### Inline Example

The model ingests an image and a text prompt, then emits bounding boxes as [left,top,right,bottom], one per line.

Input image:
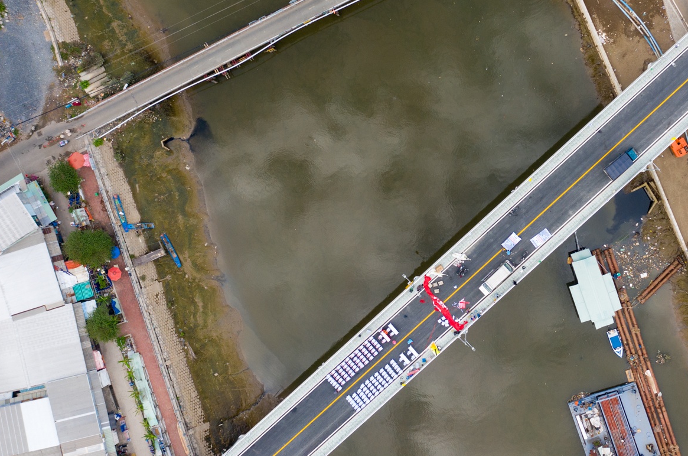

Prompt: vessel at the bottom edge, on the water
[568,381,658,456]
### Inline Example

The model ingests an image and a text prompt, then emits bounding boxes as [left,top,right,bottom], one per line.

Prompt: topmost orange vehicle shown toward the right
[668,138,688,159]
